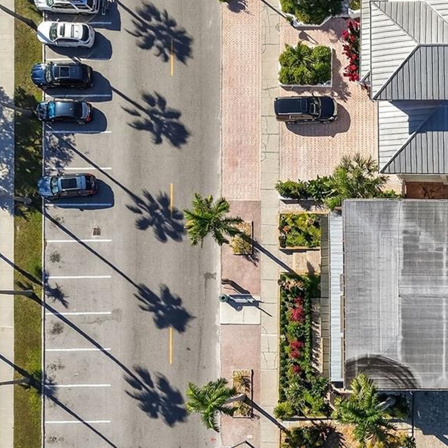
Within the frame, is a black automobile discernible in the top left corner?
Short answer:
Yes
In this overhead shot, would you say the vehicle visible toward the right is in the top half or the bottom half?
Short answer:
top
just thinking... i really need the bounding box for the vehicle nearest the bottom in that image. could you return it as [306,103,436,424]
[37,171,100,200]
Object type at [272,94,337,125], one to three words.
vehicle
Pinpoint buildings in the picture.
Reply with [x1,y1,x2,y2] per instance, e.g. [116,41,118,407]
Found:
[318,197,448,393]
[360,0,448,188]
